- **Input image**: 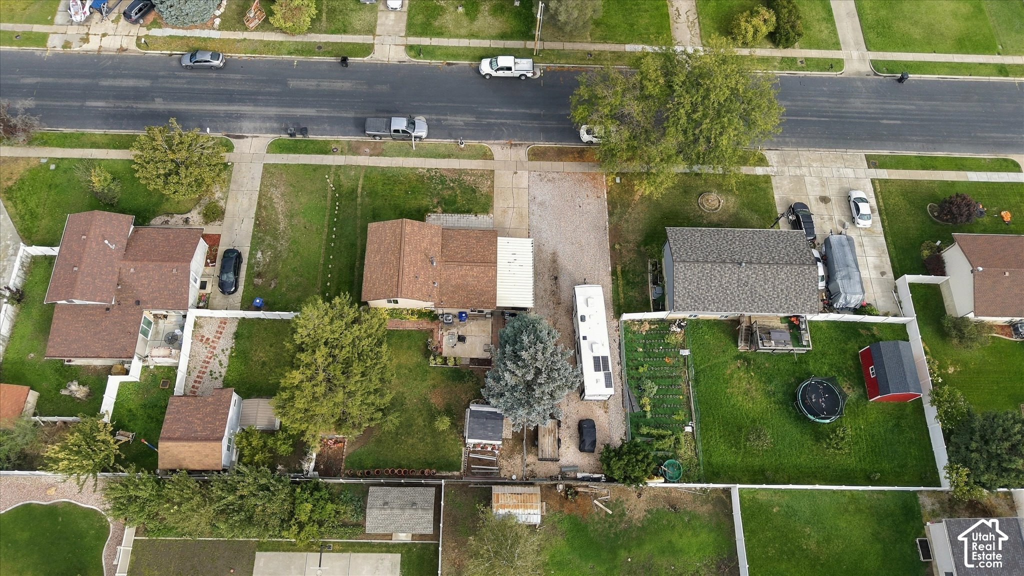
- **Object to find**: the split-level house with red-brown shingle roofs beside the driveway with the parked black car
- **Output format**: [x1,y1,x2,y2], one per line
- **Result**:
[41,210,209,364]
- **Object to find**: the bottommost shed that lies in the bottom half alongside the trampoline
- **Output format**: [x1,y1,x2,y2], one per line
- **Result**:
[859,339,922,402]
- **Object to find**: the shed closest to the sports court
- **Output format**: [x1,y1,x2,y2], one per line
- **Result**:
[365,485,436,536]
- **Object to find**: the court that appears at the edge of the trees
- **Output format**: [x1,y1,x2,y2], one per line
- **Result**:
[256,552,400,576]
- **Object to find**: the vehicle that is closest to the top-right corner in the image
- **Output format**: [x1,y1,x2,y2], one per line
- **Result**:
[850,187,879,228]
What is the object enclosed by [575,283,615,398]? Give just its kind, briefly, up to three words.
trailer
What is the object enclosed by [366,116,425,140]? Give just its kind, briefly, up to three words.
truck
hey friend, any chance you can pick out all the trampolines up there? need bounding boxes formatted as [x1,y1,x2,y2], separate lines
[791,375,851,422]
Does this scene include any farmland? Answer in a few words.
No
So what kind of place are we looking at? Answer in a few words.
residential area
